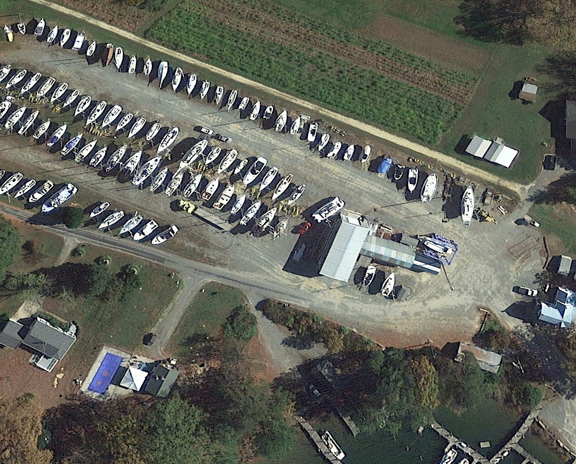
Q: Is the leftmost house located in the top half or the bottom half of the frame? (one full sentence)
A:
The leftmost house is in the bottom half of the image.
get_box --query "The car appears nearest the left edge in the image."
[145,332,157,345]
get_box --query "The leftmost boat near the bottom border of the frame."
[324,430,346,462]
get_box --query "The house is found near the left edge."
[0,317,76,374]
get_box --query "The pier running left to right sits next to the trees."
[431,409,546,464]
